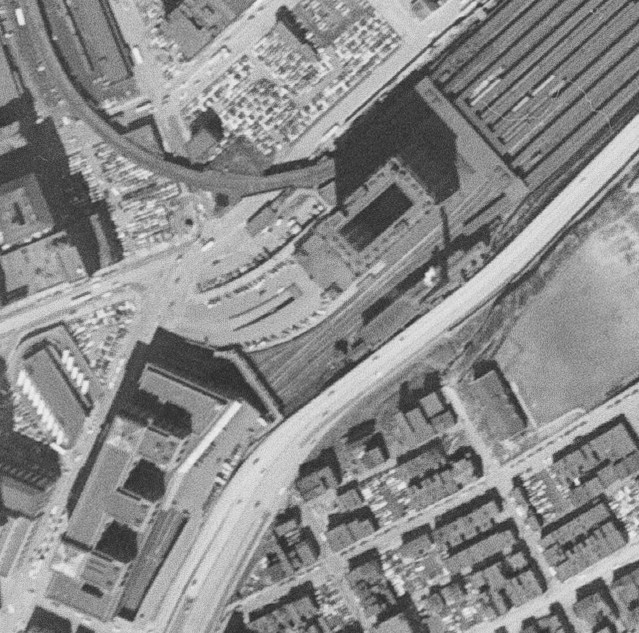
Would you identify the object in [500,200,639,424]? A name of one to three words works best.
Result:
sports field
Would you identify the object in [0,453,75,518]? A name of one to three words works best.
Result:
building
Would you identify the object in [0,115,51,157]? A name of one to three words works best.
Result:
building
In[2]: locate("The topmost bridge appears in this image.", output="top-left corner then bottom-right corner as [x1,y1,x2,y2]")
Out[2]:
[26,0,344,193]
